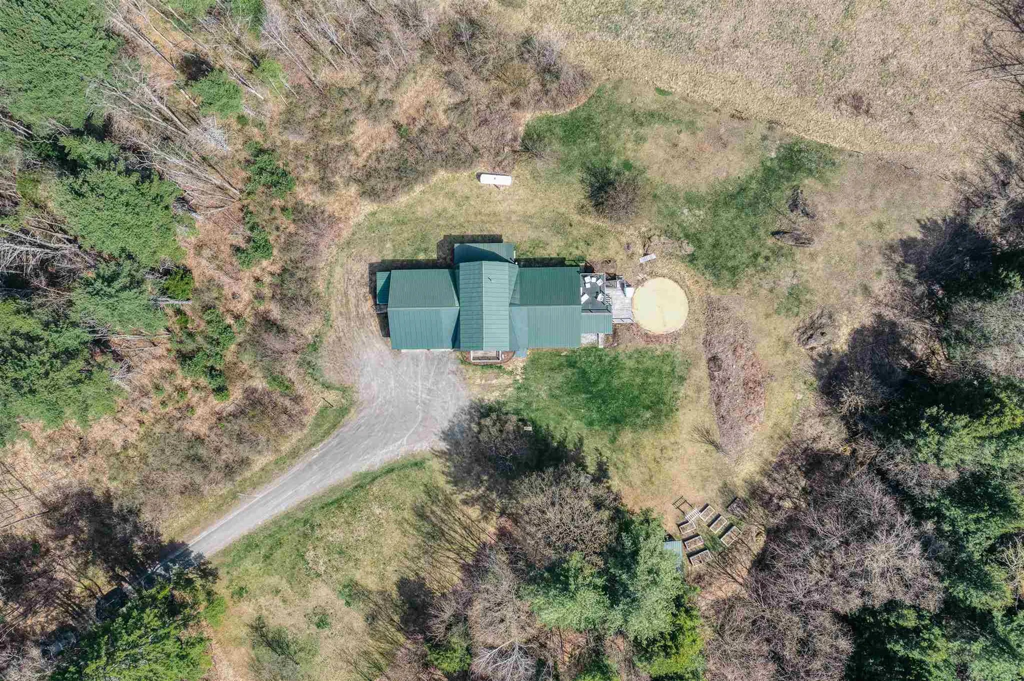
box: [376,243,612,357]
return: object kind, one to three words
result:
house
